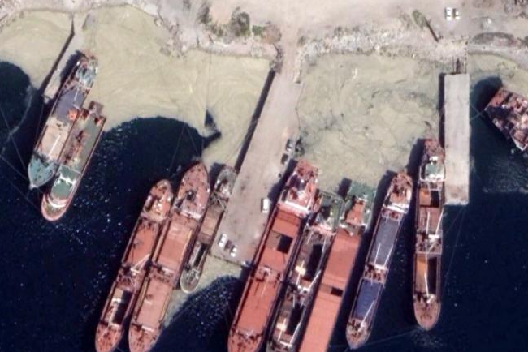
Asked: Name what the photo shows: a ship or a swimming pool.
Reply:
ship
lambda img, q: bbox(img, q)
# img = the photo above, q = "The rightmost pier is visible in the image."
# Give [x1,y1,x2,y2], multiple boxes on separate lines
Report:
[444,74,469,206]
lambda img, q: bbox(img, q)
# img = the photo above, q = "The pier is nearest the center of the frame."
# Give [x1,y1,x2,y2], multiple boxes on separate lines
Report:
[216,42,304,268]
